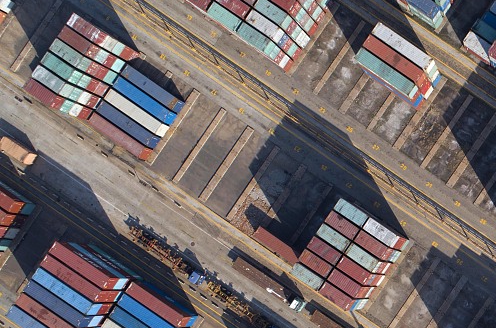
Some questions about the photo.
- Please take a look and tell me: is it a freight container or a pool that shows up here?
freight container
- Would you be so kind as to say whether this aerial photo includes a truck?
Yes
